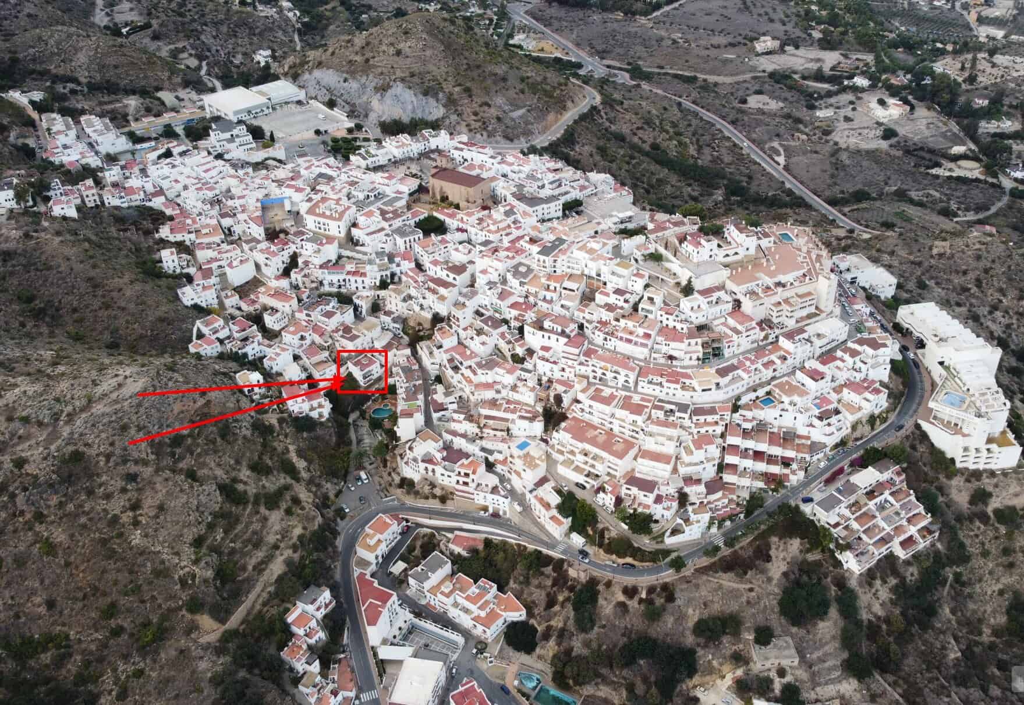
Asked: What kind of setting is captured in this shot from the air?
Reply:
residential area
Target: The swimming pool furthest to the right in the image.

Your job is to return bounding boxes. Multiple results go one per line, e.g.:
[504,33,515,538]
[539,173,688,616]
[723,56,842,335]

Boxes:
[938,390,970,409]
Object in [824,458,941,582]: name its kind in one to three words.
building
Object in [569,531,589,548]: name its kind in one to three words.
vehicle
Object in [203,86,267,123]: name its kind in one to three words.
house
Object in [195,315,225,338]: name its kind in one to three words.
house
